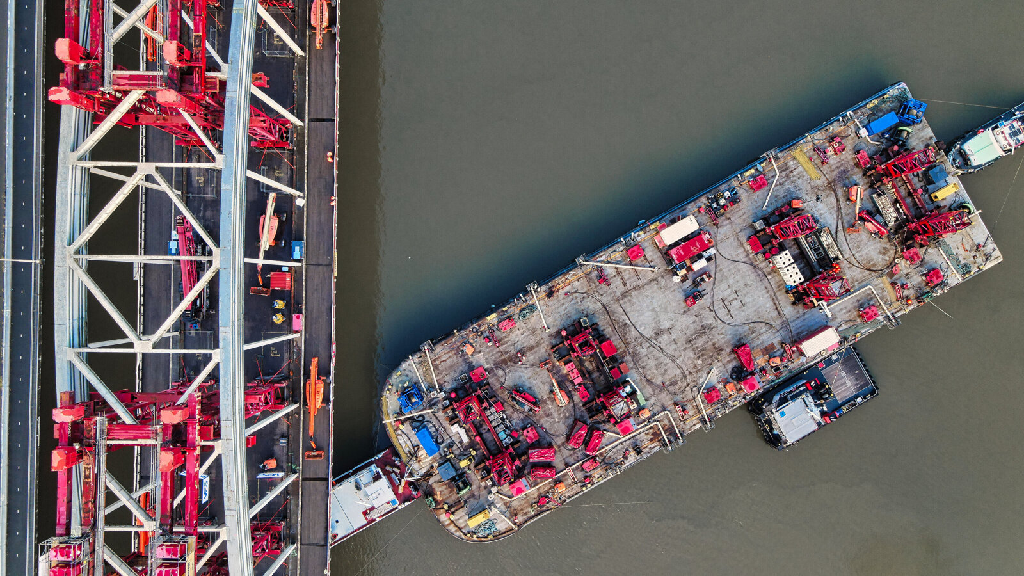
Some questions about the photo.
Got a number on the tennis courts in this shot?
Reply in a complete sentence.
There are no tennis courts in this view.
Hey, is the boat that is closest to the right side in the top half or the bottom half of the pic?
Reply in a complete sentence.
Seen from above, the boat that is closest to the right side lies in the top half of the view.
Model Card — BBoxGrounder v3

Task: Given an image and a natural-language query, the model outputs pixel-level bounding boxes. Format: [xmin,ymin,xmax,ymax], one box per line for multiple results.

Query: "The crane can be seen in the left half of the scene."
[175,213,219,330]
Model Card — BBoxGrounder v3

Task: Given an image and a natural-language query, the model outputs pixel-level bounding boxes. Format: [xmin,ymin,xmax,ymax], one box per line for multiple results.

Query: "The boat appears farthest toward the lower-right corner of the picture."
[744,346,886,452]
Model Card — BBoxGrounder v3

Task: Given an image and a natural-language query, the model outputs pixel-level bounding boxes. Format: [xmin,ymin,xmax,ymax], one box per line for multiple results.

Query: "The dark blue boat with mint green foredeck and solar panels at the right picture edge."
[944,102,1024,173]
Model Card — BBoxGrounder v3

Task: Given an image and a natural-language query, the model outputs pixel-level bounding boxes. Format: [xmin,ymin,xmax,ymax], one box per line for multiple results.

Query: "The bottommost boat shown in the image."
[332,446,421,547]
